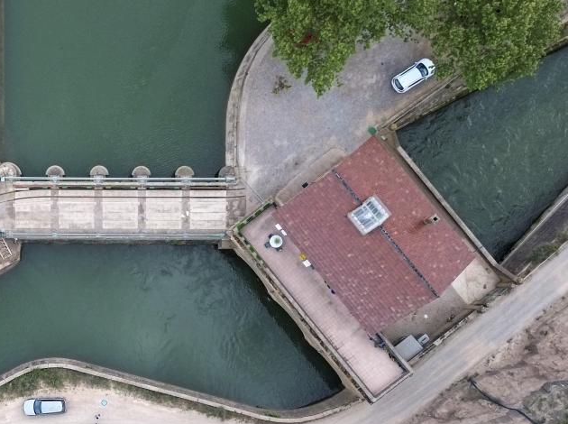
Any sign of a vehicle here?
Yes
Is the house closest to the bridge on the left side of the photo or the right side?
right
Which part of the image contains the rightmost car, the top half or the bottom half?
top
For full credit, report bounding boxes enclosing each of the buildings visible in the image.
[274,136,477,334]
[388,334,424,362]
